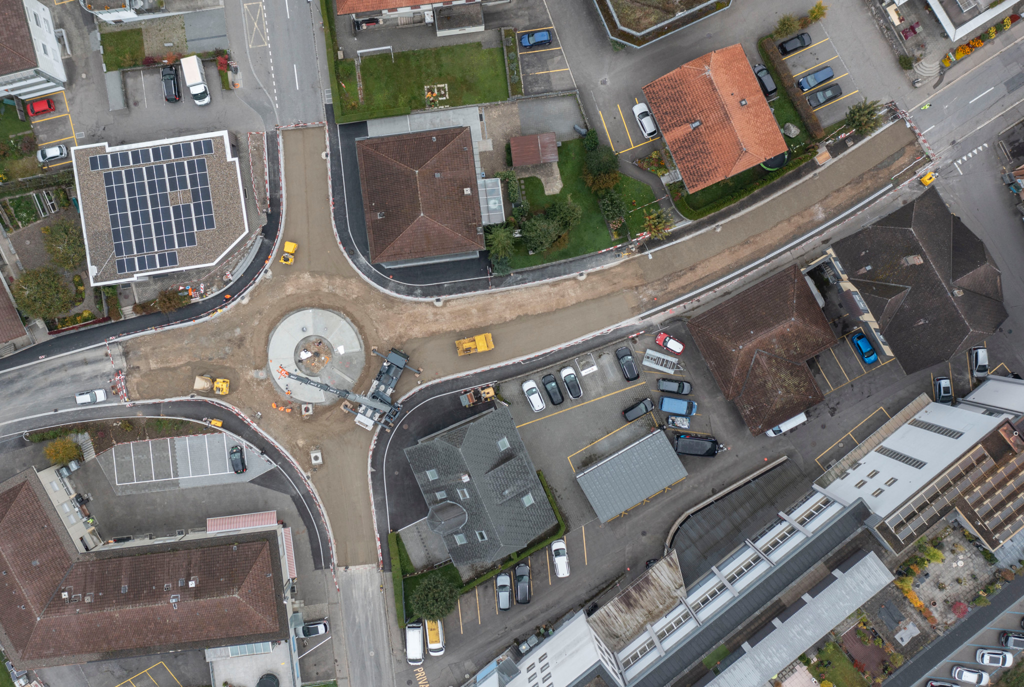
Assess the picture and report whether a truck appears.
Yes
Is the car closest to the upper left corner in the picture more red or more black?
red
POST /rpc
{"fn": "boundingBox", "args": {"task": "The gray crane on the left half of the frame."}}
[272,348,422,430]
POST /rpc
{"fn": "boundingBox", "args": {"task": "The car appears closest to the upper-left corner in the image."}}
[25,97,58,117]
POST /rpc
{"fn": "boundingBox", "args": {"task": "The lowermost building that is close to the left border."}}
[0,462,297,670]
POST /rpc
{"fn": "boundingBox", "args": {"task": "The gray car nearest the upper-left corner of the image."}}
[35,143,71,163]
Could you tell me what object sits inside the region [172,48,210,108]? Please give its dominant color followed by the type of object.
white truck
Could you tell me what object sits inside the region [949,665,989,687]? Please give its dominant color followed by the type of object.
white car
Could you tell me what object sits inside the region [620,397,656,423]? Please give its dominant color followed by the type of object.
gray car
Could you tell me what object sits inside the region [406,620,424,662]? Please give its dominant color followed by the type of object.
white vehicle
